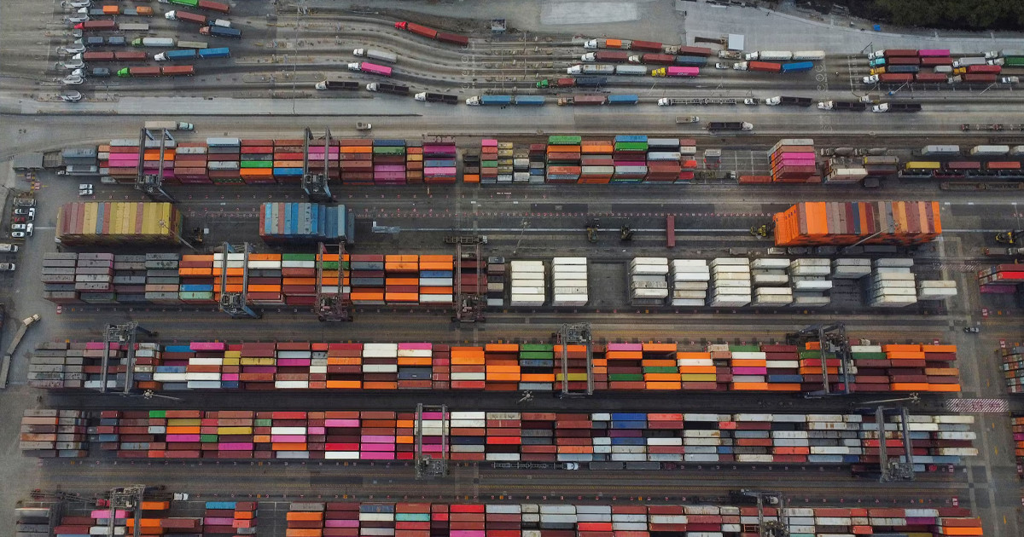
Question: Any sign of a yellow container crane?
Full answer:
No, there is no yellow container crane in the image.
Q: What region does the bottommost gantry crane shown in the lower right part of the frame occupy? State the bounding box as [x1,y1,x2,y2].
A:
[729,485,787,537]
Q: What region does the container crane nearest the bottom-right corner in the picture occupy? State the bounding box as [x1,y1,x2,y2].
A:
[842,405,915,480]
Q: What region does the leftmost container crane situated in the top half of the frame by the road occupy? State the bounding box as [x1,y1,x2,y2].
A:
[134,129,188,206]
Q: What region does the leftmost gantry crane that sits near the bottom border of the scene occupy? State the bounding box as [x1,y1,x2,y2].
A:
[107,481,171,537]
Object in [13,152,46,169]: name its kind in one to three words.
shed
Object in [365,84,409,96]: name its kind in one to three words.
vehicle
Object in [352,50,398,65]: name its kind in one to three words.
vehicle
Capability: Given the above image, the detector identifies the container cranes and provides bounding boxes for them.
[218,243,266,322]
[551,322,594,399]
[134,129,188,206]
[416,402,452,479]
[729,485,787,537]
[788,323,851,398]
[98,323,163,397]
[107,481,171,537]
[316,242,355,326]
[300,129,336,205]
[842,405,915,480]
